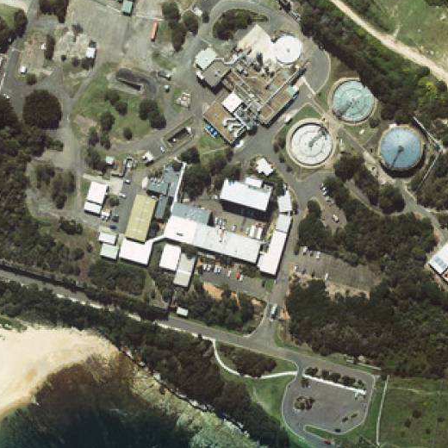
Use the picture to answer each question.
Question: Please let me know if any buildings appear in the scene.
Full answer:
Yes, the frame does contain a building.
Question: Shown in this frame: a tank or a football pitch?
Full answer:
There is a tank in the scene.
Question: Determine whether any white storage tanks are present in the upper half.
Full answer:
Yes, looking in the upper half, one can make out a white storage tank.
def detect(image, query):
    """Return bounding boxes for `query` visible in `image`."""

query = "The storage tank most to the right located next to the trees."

[379,127,424,172]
